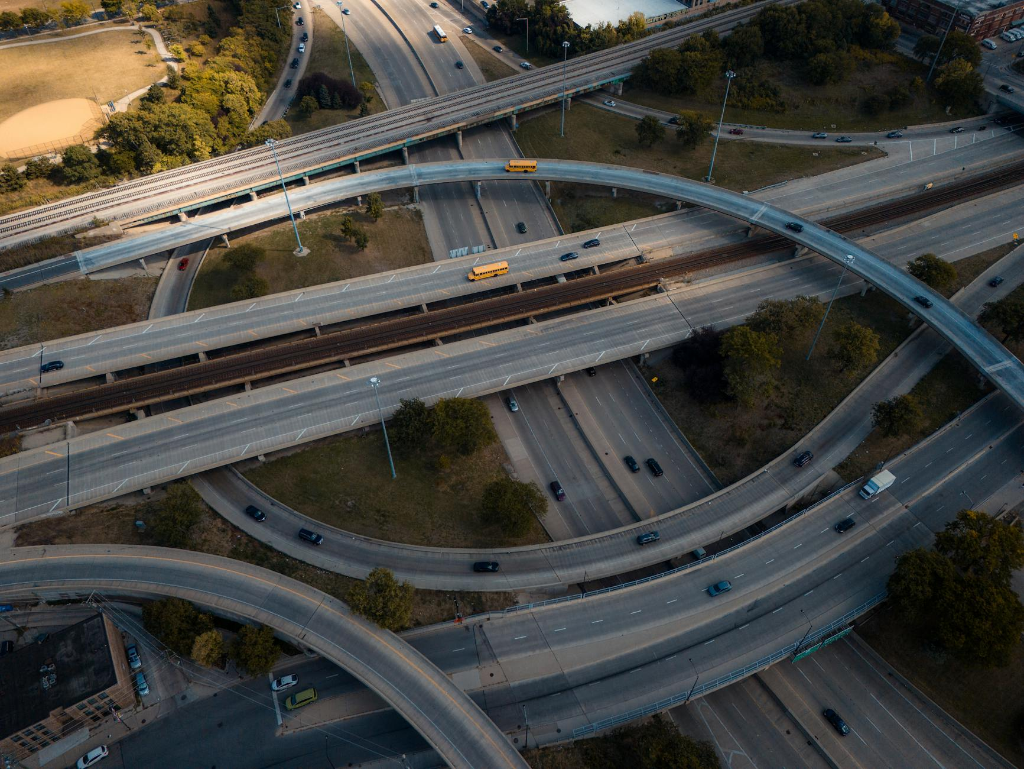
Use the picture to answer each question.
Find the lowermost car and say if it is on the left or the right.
left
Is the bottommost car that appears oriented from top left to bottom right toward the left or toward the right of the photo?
right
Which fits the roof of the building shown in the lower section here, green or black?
black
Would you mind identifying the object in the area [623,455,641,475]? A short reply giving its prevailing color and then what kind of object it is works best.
black car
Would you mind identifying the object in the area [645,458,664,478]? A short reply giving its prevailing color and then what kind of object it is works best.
black car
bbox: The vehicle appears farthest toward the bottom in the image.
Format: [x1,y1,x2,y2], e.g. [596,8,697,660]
[76,741,113,769]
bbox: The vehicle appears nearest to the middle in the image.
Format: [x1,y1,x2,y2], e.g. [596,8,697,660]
[505,396,520,414]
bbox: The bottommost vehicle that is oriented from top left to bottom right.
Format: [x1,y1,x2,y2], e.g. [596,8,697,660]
[822,707,853,739]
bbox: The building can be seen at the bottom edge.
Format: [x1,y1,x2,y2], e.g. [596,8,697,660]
[0,613,136,769]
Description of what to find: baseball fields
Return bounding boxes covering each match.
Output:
[0,99,101,158]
